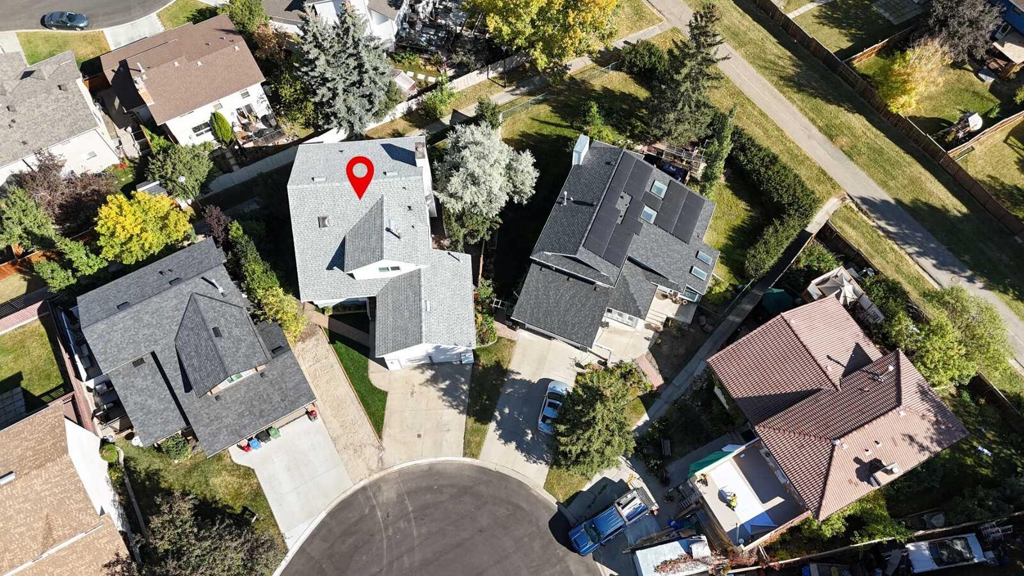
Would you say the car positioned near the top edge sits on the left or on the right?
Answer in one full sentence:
The car positioned near the top edge appears in the left half of the scene.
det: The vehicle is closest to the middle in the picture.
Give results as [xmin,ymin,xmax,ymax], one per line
[533,379,572,439]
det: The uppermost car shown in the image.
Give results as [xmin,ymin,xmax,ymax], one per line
[42,14,92,34]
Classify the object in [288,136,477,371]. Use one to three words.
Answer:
house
